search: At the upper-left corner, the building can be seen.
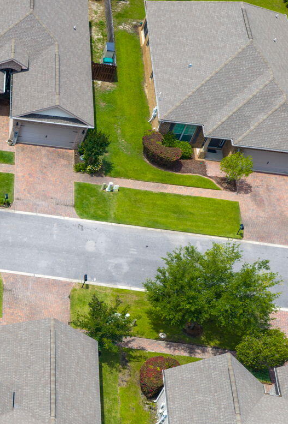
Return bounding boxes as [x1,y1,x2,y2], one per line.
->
[0,0,96,151]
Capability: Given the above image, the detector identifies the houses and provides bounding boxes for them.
[0,0,96,151]
[142,361,288,424]
[135,0,288,179]
[0,318,104,424]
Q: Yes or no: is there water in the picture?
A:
No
